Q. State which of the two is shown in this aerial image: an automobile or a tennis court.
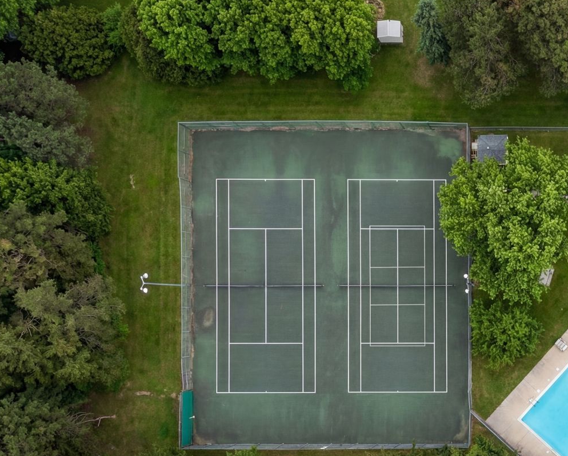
tennis court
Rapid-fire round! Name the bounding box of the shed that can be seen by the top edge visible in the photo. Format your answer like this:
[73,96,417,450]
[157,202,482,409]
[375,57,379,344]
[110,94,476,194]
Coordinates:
[375,14,403,43]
